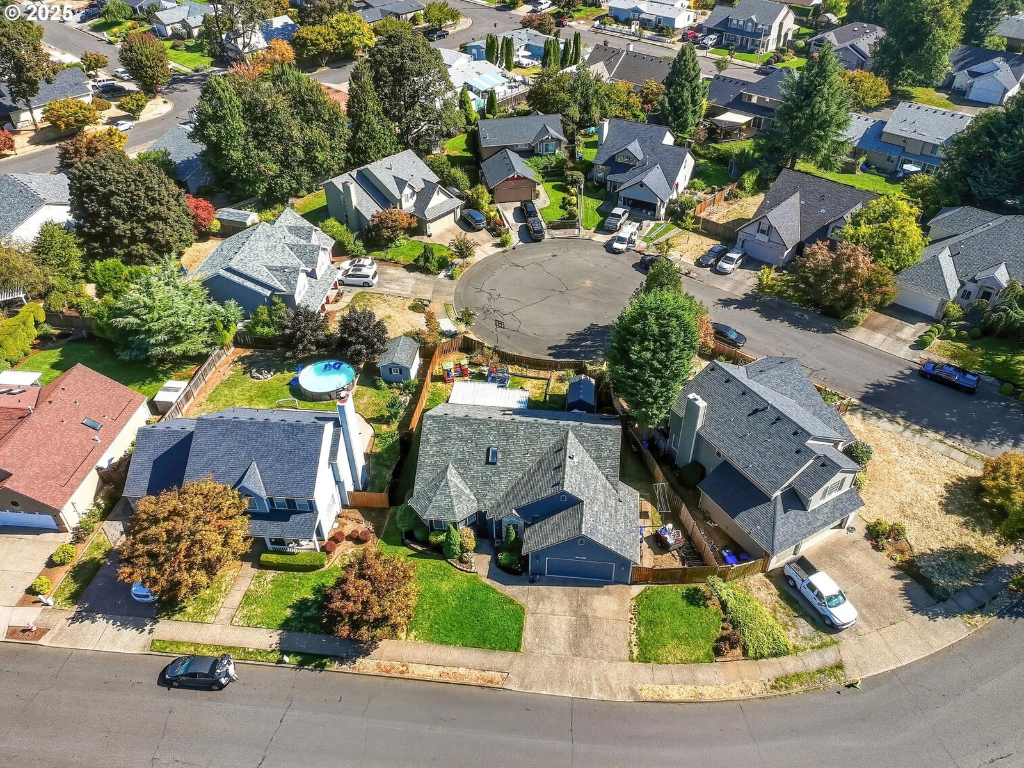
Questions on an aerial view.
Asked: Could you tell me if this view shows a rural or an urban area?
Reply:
urban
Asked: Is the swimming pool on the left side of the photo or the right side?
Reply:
left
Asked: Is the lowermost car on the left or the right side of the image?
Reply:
left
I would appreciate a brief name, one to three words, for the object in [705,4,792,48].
house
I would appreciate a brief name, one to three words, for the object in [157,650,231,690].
car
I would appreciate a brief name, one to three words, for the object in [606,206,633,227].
truck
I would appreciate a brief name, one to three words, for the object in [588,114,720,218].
house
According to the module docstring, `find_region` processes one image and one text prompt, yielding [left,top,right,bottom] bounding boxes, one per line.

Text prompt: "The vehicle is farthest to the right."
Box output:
[919,357,985,387]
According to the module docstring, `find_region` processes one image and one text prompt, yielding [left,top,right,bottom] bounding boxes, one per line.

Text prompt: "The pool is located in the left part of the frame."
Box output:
[296,360,357,404]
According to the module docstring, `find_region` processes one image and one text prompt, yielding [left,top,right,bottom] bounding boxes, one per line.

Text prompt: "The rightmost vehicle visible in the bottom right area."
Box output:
[783,557,860,631]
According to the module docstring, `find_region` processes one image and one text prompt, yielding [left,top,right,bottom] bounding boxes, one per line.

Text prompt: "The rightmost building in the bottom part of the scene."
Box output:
[661,352,868,573]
